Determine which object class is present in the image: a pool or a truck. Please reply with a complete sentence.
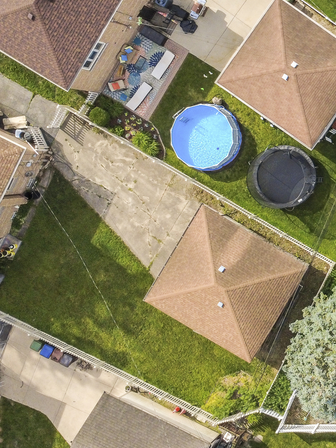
Looking from above, you can make out a pool.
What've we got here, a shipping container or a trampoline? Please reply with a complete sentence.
The one in the frame is a trampoline.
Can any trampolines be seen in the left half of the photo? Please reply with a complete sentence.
No, no trampoline appears in the left half of the photo.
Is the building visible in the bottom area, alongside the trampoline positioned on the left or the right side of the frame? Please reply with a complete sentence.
It is on the right.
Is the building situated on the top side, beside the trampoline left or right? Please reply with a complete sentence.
It is on the right.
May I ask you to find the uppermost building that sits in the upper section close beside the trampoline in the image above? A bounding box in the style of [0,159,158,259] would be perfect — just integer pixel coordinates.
[214,0,336,151]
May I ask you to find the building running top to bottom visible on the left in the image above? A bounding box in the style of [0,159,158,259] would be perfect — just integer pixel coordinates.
[0,123,55,253]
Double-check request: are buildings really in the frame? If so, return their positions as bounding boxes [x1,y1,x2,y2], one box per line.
[64,384,224,448]
[0,123,55,253]
[141,202,313,365]
[0,0,153,92]
[214,0,336,151]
